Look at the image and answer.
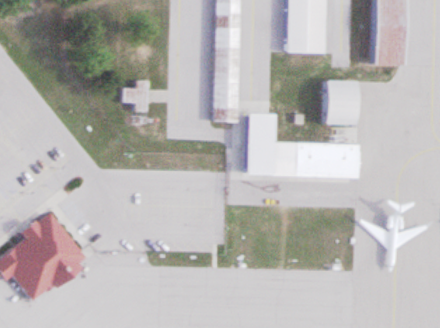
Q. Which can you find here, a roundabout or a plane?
plane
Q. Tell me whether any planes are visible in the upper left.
No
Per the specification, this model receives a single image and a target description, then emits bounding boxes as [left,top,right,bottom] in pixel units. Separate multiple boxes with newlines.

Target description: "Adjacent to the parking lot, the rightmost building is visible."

[244,114,360,179]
